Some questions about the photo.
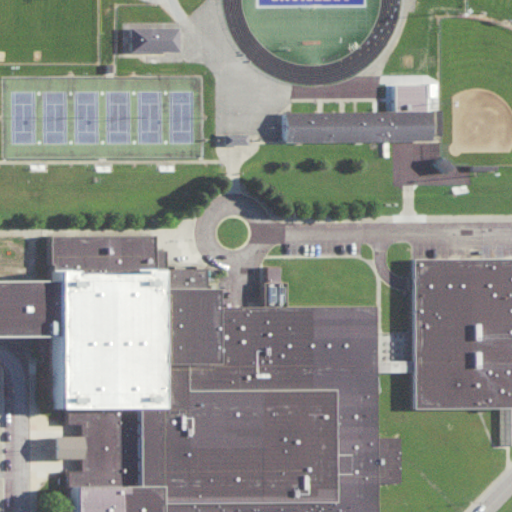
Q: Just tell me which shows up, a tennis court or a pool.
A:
tennis court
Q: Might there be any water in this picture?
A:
No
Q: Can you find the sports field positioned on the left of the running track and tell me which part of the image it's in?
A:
top left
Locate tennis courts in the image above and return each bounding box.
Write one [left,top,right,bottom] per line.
[72,92,101,144]
[136,92,164,144]
[167,92,195,144]
[41,92,70,144]
[104,92,132,144]
[10,92,38,144]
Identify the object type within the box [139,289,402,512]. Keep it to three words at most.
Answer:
building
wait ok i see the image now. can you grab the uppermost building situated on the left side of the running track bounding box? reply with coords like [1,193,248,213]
[130,29,182,54]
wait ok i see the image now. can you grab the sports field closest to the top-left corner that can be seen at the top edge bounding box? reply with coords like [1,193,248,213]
[0,0,98,63]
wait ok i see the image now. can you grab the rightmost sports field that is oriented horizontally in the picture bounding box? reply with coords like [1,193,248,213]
[242,0,380,66]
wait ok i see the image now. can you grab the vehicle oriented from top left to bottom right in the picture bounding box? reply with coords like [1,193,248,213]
[212,257,228,270]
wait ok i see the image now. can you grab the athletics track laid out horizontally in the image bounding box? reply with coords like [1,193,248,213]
[221,0,402,86]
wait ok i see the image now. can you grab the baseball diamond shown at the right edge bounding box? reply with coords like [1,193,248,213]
[439,18,512,164]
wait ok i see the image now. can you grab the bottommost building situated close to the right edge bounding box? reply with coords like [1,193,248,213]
[412,260,512,410]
